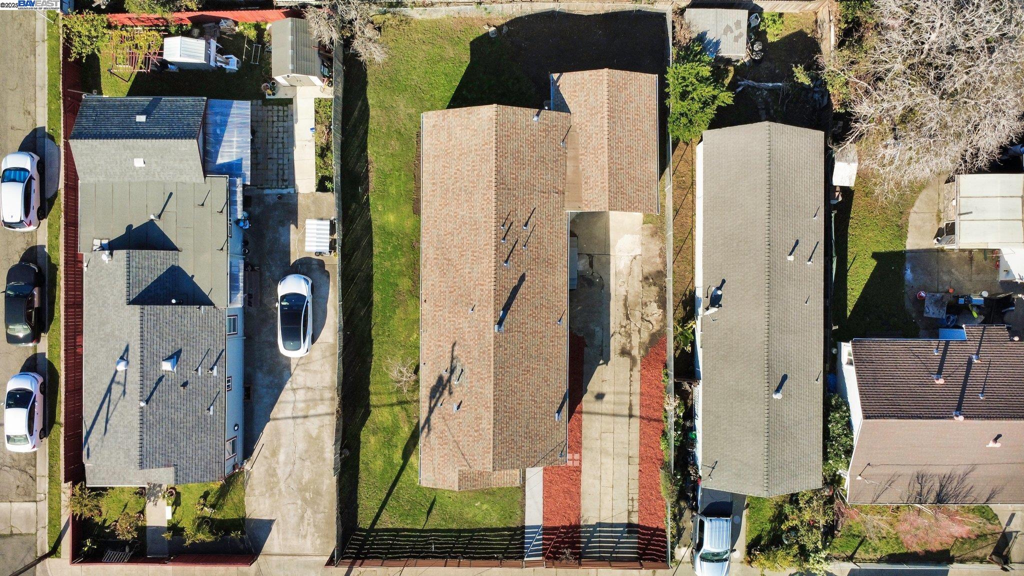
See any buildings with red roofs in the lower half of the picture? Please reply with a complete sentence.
No, no building with a red roof is visible in the lower half of the picture.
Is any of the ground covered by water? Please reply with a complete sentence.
No, there is no water in the image.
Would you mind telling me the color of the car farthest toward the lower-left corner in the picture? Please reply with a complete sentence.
The car farthest toward the lower-left corner is white.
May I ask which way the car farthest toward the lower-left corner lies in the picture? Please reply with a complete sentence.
What the image shows is the car farthest toward the lower-left corner lying from top to bottom.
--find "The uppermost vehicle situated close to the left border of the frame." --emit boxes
[1,152,46,232]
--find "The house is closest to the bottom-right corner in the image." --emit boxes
[837,324,1024,505]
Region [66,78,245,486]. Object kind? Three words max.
house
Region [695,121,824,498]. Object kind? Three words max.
house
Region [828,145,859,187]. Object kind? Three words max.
shed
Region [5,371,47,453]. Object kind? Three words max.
car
